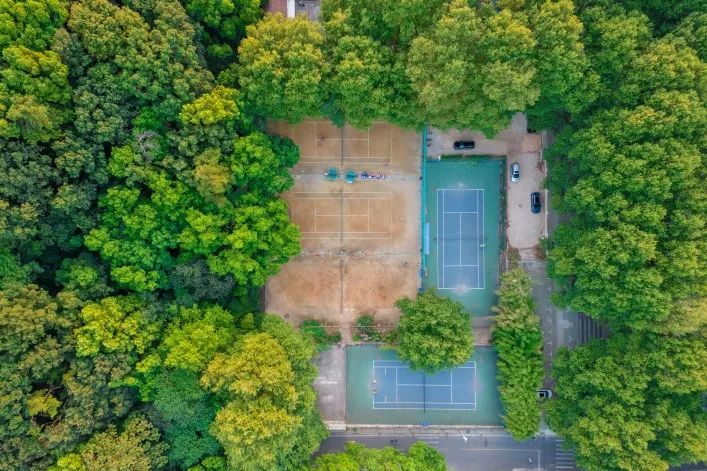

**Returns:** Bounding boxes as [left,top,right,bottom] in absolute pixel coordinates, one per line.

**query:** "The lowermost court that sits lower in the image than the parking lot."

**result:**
[347,345,503,425]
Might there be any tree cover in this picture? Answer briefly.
Yes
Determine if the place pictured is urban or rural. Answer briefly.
rural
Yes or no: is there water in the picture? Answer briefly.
No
